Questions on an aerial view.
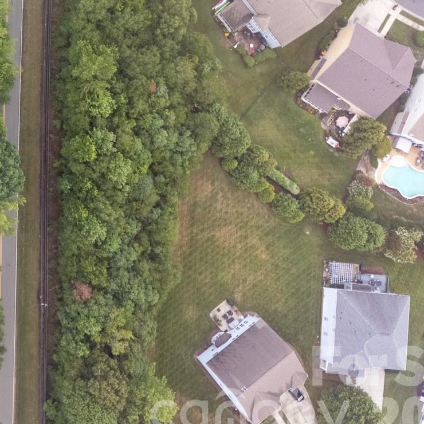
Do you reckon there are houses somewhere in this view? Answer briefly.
Yes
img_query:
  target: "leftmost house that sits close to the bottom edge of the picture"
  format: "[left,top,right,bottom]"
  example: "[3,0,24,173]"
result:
[199,315,308,424]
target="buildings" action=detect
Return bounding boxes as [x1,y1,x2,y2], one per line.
[315,281,410,375]
[387,73,424,152]
[217,0,343,48]
[199,315,308,424]
[297,22,417,120]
